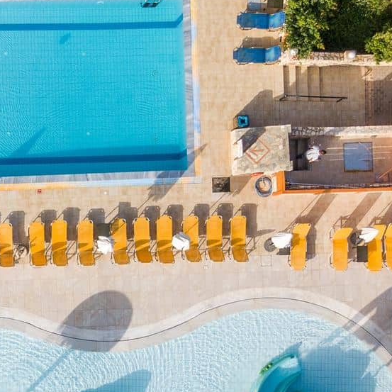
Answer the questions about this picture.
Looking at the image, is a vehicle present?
No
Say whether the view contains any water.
Yes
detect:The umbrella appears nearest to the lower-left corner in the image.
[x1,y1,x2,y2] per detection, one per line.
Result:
[93,237,112,256]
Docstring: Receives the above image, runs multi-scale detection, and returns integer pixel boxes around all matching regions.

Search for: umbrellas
[168,234,187,254]
[261,230,287,249]
[93,237,112,256]
[348,227,375,245]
